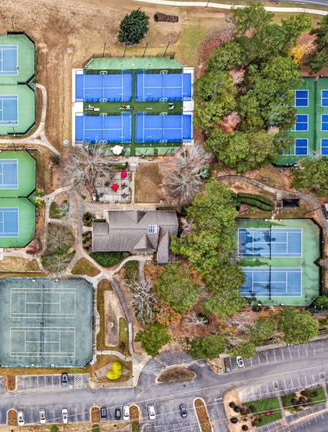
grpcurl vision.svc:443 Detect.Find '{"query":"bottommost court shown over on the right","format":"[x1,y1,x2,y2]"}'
[231,262,319,306]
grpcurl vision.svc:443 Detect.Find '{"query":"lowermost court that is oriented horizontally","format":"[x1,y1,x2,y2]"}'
[0,322,95,367]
